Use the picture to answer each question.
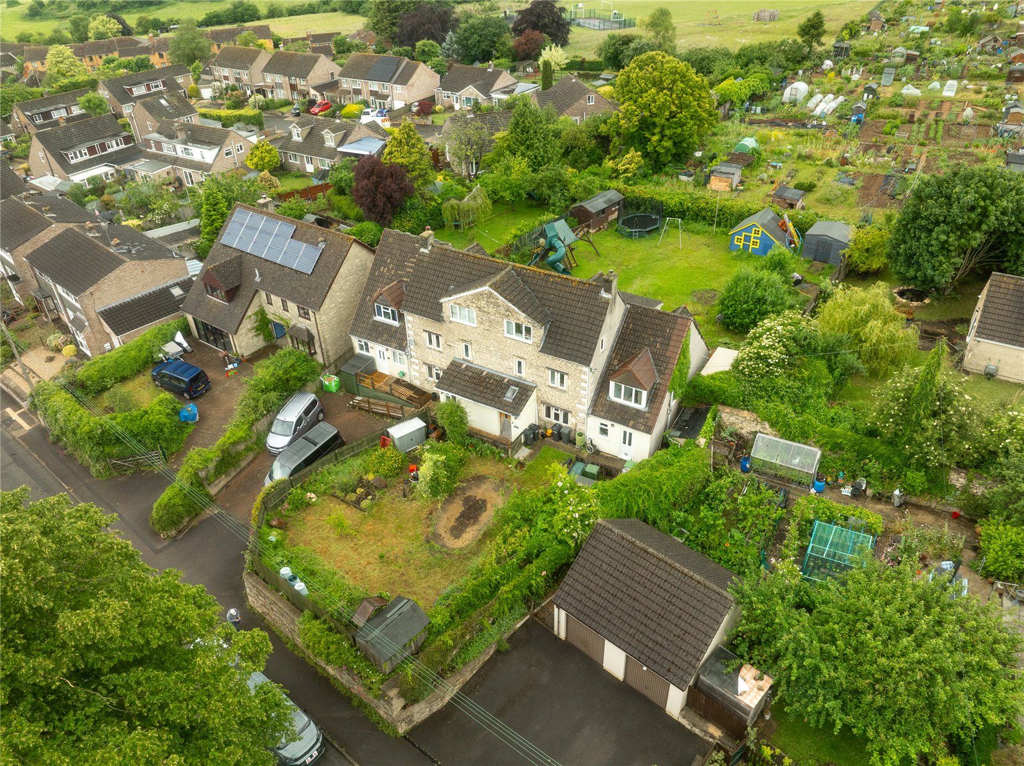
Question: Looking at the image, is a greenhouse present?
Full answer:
Yes, the picture does show a greenhouse.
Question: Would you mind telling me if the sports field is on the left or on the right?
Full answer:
You can find the sports field on the right side of the picture.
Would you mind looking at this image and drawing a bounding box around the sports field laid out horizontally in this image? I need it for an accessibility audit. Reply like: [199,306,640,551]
[538,0,918,61]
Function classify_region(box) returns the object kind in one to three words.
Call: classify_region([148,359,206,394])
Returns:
car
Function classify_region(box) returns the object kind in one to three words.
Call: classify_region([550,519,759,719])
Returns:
building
